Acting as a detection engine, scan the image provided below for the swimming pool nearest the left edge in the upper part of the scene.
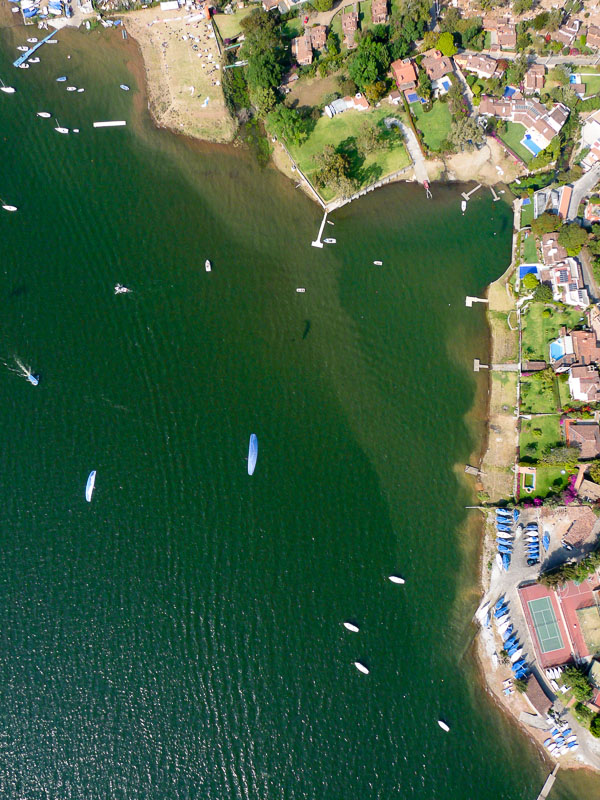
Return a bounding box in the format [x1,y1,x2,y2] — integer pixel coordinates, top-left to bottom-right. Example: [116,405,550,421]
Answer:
[405,89,427,104]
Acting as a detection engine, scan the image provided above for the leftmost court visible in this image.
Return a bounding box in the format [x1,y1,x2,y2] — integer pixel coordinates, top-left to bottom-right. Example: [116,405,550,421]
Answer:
[521,583,574,668]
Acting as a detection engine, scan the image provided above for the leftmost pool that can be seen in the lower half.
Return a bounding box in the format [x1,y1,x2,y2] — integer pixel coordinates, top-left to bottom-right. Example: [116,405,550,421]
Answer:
[519,467,536,493]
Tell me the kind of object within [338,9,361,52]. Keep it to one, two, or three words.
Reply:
house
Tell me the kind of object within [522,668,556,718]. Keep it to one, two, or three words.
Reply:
shed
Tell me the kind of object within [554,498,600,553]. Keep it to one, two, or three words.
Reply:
building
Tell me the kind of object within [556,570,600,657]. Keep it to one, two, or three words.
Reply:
basketball court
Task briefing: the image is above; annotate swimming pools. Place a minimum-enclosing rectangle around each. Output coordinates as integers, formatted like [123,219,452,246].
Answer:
[516,264,541,284]
[519,467,536,493]
[569,73,581,84]
[549,337,566,362]
[441,77,452,92]
[520,127,550,157]
[405,89,427,104]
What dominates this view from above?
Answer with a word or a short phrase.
water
